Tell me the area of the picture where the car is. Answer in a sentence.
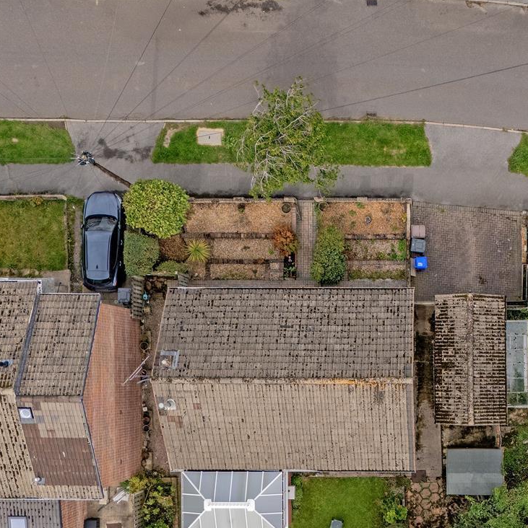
Look in the left portion of the view to spot the car.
